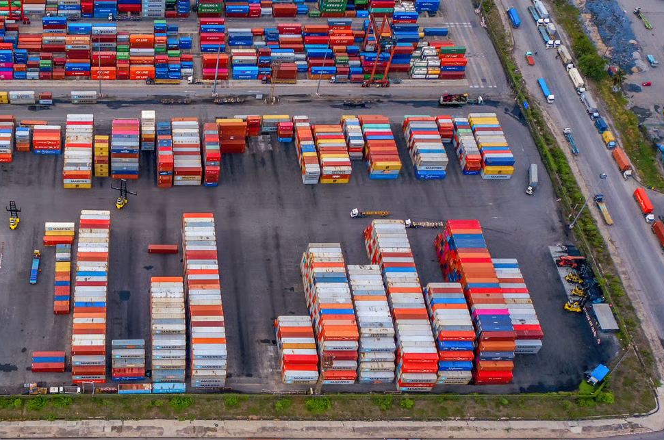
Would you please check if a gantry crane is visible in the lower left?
No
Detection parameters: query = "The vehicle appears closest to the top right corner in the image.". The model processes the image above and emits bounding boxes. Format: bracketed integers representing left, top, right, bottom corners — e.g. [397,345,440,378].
[631,6,653,28]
